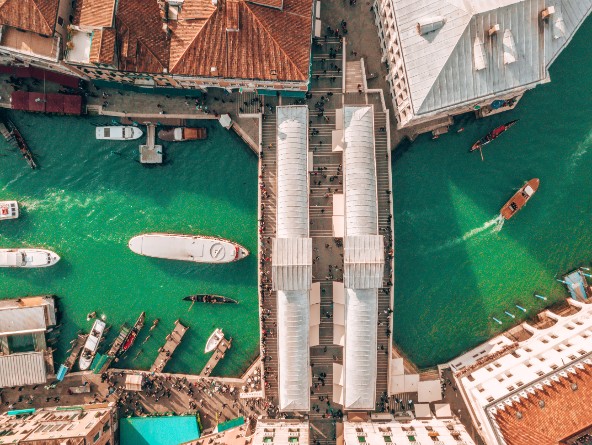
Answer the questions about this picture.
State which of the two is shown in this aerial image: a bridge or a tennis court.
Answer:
bridge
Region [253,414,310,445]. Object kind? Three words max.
house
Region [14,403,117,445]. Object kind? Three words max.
house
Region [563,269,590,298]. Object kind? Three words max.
pier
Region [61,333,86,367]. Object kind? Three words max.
pier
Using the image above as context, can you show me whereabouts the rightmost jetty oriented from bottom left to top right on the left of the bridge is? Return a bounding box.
[202,338,232,376]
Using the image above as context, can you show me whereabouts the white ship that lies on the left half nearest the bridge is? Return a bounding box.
[127,235,249,264]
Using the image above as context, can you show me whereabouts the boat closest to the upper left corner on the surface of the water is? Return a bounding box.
[5,117,34,169]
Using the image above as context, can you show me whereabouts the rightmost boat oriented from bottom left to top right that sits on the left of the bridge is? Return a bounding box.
[205,328,224,353]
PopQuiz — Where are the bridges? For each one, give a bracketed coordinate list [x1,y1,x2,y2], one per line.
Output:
[258,85,395,416]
